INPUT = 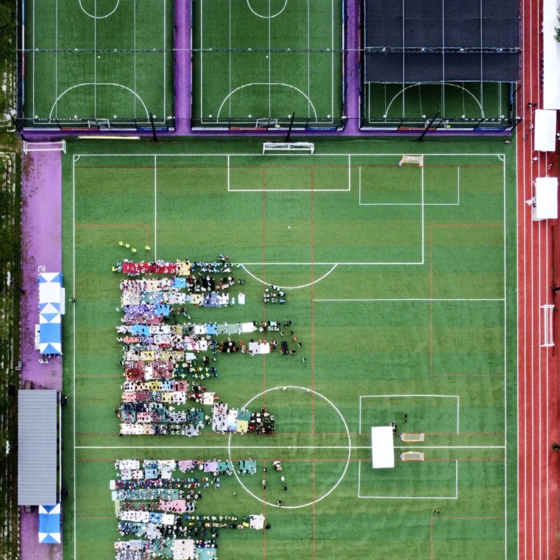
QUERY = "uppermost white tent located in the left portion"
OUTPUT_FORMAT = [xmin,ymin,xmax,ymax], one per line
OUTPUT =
[40,273,62,315]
